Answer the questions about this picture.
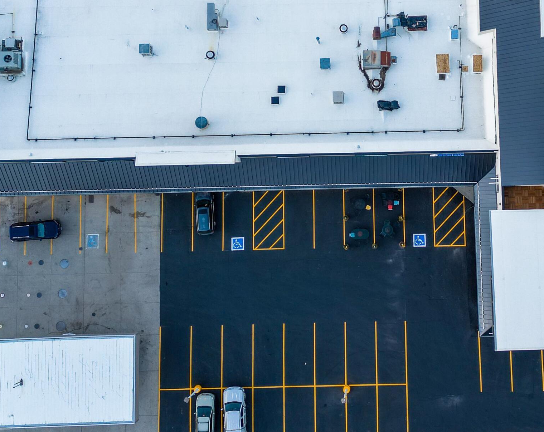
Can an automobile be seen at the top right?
No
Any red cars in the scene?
No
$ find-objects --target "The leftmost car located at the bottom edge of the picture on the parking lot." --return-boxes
[192,388,218,432]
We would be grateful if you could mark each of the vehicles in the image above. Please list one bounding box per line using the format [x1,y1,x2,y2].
[219,382,248,432]
[192,193,219,238]
[7,216,66,243]
[192,388,218,432]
